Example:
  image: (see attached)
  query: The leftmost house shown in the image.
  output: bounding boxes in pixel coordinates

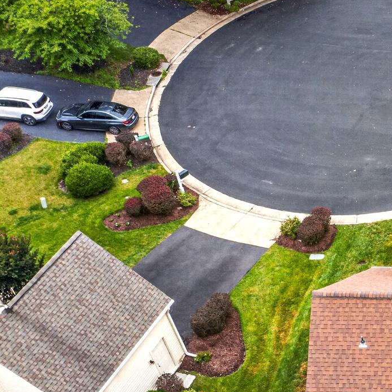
[0,237,209,392]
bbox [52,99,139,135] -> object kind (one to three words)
car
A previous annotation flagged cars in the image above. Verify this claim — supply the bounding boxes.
[52,99,139,135]
[0,85,51,126]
